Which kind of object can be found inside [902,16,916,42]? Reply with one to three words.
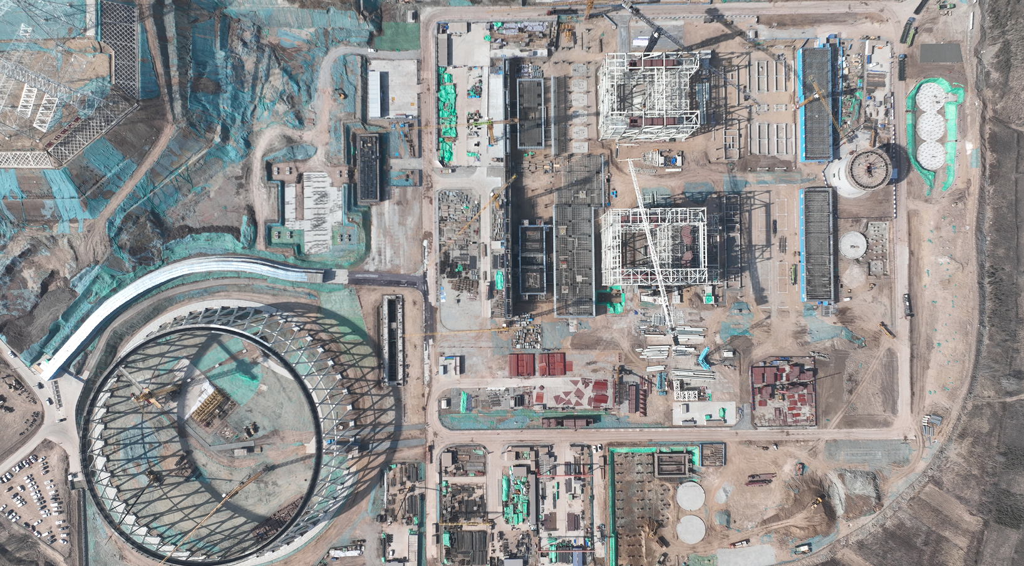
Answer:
vehicle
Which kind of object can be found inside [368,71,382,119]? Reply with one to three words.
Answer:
building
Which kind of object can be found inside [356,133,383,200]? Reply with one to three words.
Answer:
building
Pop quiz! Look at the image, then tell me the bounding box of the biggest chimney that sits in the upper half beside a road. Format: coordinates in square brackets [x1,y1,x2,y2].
[830,146,893,197]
